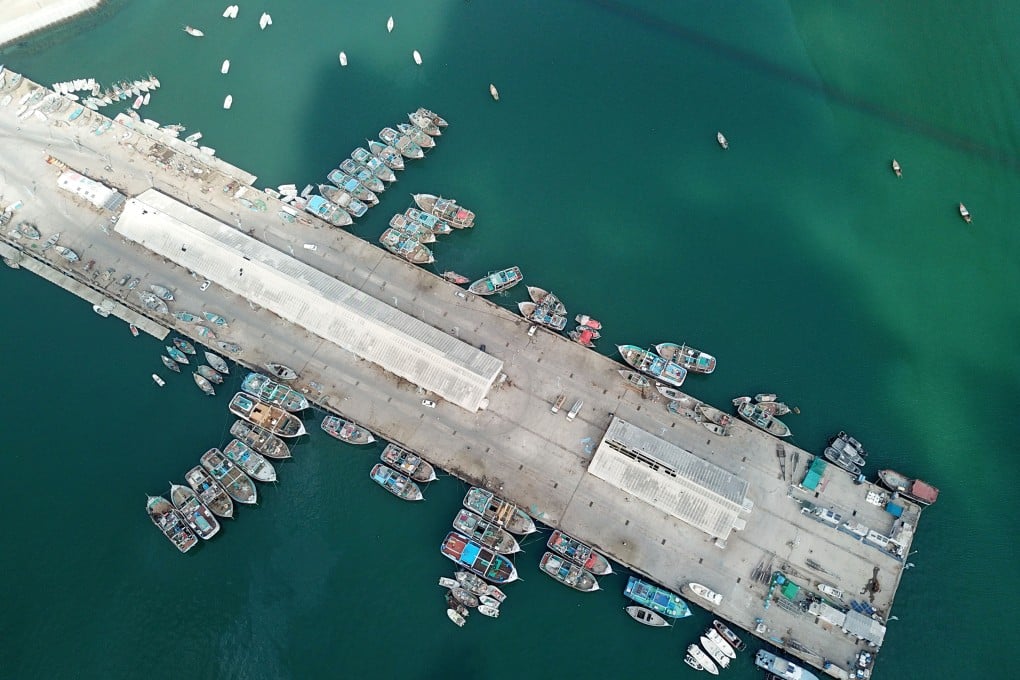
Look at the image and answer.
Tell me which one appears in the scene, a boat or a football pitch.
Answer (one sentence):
There is a boat in the scene.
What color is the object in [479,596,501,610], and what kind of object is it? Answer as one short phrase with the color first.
white boat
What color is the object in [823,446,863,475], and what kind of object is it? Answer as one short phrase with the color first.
gray boat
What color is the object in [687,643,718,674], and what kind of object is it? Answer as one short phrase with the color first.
white boat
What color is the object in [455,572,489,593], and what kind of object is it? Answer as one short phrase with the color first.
gray boat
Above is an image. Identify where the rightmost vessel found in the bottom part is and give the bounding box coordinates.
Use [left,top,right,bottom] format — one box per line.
[875,468,939,506]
